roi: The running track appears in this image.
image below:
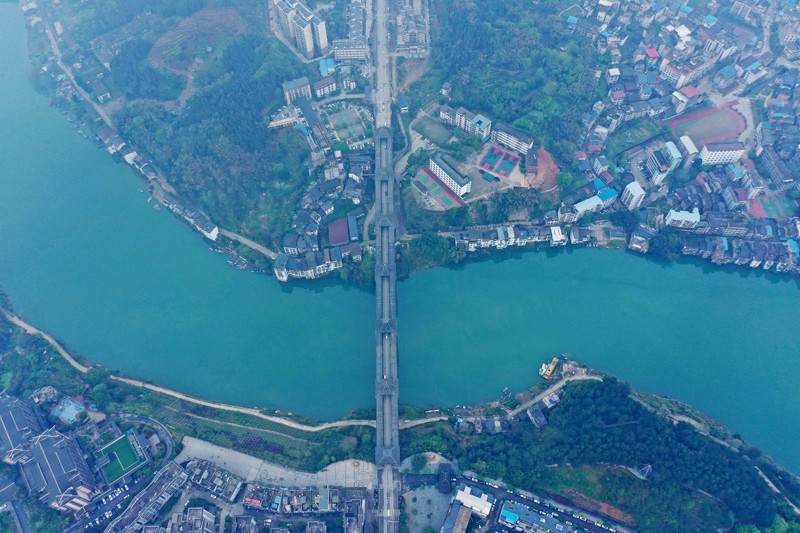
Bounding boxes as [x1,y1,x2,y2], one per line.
[666,104,746,148]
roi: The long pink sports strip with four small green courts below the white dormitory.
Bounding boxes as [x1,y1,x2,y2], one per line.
[410,166,459,208]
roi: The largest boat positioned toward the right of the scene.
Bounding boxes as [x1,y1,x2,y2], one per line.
[538,354,562,379]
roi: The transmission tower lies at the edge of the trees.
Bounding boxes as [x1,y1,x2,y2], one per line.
[630,469,652,489]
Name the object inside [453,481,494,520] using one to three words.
building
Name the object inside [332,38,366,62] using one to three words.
building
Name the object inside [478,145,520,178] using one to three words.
sports court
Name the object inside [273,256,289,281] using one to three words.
house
